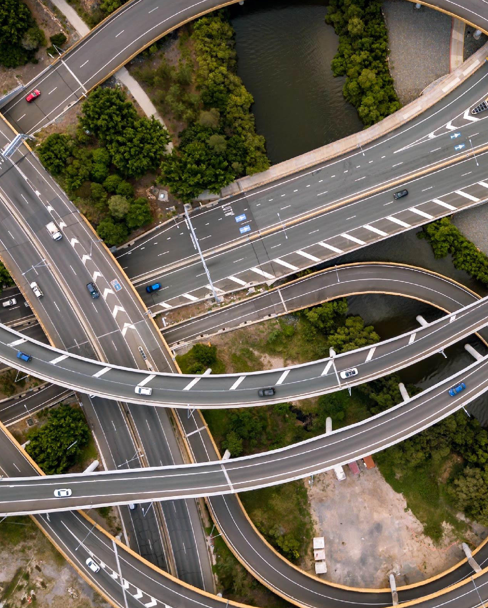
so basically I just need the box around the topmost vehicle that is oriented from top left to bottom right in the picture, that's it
[46,220,62,239]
